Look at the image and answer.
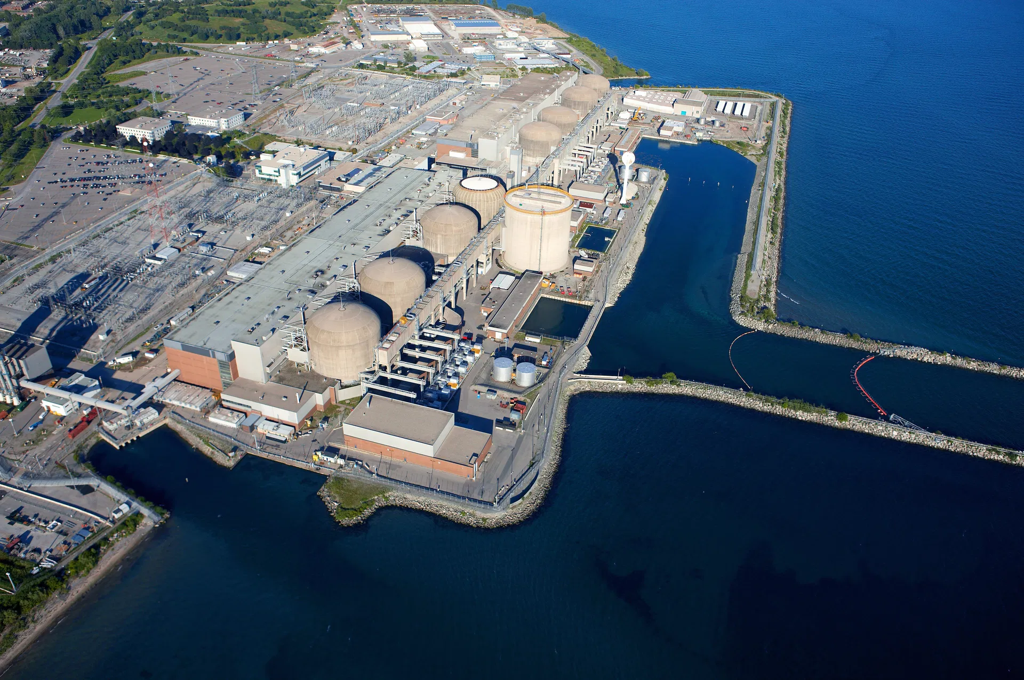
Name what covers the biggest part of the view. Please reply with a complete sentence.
What you mostly see from above here is water.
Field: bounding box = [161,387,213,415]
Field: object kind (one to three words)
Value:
shed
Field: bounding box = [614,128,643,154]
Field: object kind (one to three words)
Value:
building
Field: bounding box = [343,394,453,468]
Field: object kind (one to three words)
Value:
building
